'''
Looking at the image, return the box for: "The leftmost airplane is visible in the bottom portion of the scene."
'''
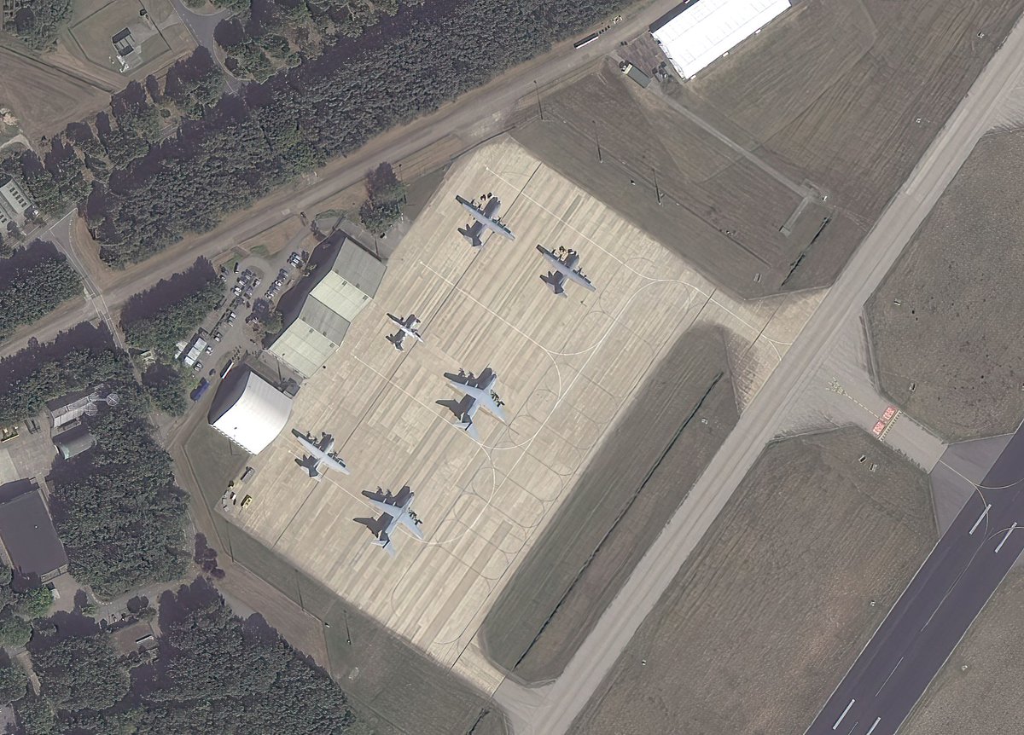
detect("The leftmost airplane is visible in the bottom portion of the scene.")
[296,436,351,484]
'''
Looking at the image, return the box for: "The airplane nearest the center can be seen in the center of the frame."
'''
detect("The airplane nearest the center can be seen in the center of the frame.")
[449,375,506,441]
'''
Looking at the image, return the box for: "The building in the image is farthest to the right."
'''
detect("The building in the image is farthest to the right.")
[645,0,793,78]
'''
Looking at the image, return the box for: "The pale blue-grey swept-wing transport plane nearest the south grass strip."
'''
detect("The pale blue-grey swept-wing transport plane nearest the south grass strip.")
[367,491,424,559]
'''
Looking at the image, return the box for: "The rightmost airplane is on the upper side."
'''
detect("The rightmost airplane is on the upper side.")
[542,252,598,300]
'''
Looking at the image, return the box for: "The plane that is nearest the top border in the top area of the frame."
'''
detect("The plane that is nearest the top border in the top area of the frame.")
[461,201,517,249]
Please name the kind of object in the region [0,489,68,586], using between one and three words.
building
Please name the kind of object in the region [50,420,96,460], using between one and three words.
shed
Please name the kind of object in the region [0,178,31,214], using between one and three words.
building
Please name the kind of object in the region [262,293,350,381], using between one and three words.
hangar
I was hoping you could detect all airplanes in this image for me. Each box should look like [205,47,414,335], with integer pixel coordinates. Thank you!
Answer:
[390,319,425,350]
[542,252,598,300]
[367,491,424,559]
[449,375,506,441]
[461,201,517,249]
[296,436,351,484]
